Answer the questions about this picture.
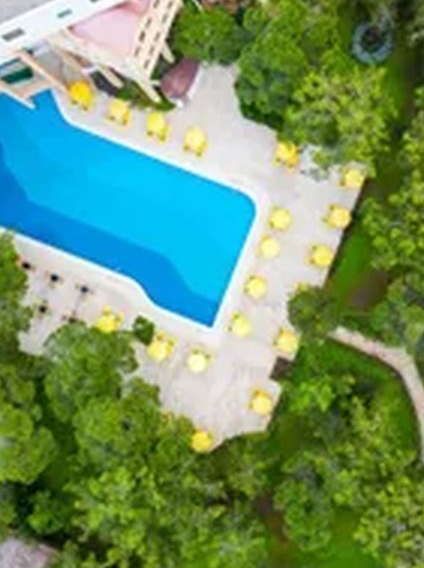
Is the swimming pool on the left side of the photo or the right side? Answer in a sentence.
It is on the left.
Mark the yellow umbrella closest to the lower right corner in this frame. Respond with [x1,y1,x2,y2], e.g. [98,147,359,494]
[249,389,273,412]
